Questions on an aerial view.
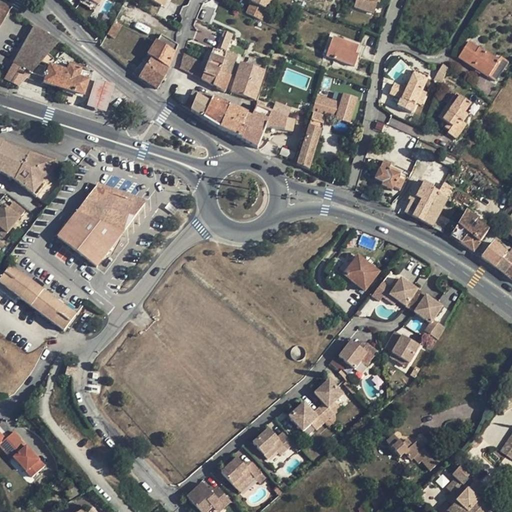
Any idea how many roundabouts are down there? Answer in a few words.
1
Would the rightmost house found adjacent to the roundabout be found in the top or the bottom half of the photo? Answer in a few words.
top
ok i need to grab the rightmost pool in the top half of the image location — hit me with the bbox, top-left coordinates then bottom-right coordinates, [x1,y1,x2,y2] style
[388,58,406,80]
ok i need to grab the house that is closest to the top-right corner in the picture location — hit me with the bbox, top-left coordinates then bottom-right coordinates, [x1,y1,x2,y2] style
[459,42,509,80]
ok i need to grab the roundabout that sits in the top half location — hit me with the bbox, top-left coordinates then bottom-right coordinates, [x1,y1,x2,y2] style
[196,150,290,243]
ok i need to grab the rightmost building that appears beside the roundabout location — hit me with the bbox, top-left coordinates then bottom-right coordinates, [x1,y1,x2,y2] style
[297,94,338,168]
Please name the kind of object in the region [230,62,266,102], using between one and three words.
house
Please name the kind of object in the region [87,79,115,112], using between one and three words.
shed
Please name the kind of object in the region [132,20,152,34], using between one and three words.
vehicle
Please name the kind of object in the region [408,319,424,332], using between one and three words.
swimming pool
